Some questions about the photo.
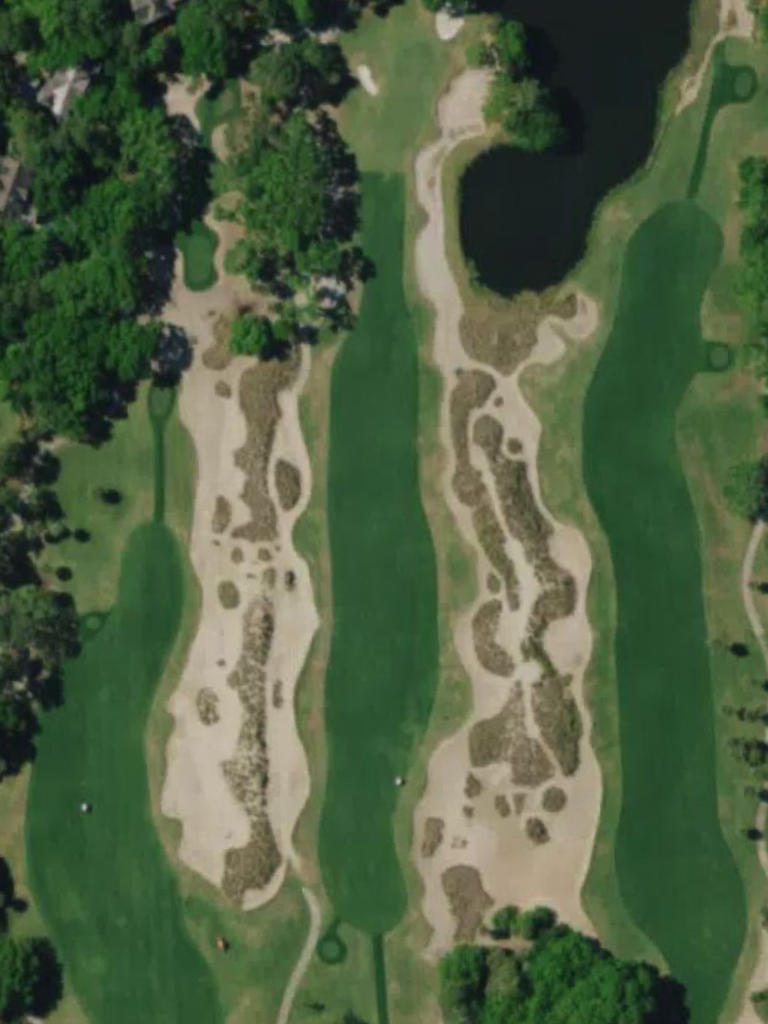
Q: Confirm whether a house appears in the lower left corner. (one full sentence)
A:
No, there's no house to be seen in the lower left corner.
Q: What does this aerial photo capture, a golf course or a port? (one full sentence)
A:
What you see here is a golf course.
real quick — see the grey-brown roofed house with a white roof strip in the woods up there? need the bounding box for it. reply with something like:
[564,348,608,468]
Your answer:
[32,67,93,117]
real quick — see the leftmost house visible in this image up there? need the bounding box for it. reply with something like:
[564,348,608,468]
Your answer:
[0,159,37,216]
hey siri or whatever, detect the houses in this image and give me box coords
[0,159,37,216]
[127,0,189,25]
[32,67,93,117]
